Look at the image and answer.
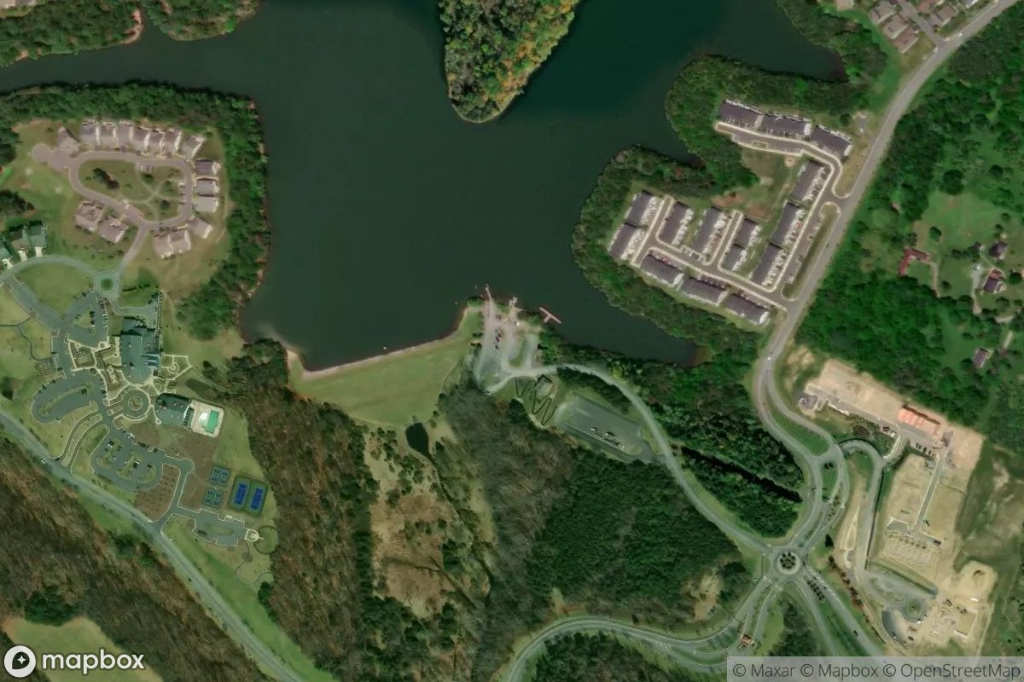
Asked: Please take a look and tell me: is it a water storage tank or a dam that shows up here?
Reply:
dam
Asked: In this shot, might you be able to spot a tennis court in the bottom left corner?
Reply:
Yes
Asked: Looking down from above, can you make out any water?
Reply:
Yes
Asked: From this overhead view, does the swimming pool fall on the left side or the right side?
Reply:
left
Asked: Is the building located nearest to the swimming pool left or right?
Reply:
left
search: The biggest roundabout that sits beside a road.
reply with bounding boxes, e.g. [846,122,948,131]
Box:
[768,545,806,582]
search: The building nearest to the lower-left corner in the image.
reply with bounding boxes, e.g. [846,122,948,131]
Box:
[157,394,196,427]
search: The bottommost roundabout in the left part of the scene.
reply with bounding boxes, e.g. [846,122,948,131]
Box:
[119,390,147,418]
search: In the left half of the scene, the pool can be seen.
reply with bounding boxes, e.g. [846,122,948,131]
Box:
[192,400,224,437]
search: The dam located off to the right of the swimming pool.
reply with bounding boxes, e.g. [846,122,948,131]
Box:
[299,310,477,425]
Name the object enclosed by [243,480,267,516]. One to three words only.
tennis court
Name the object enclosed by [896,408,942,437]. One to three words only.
building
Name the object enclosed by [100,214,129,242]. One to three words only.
house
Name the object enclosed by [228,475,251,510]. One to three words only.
tennis court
